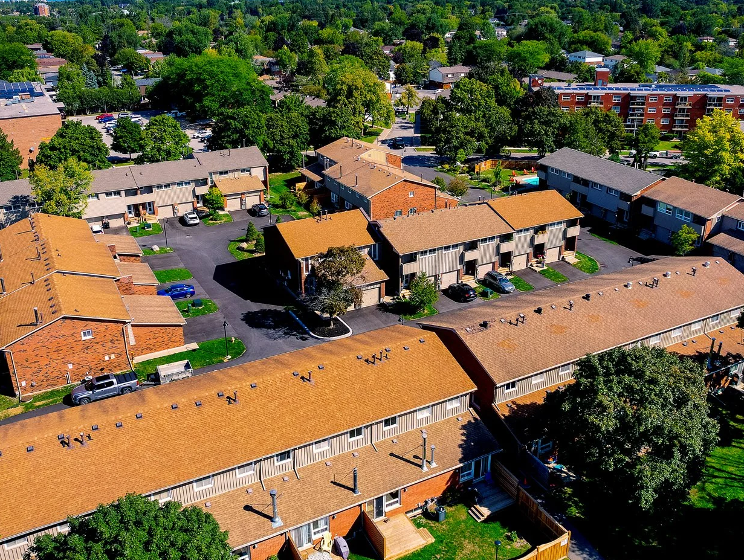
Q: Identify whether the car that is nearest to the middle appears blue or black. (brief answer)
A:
black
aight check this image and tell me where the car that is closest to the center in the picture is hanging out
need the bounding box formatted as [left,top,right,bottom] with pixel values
[441,285,476,306]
